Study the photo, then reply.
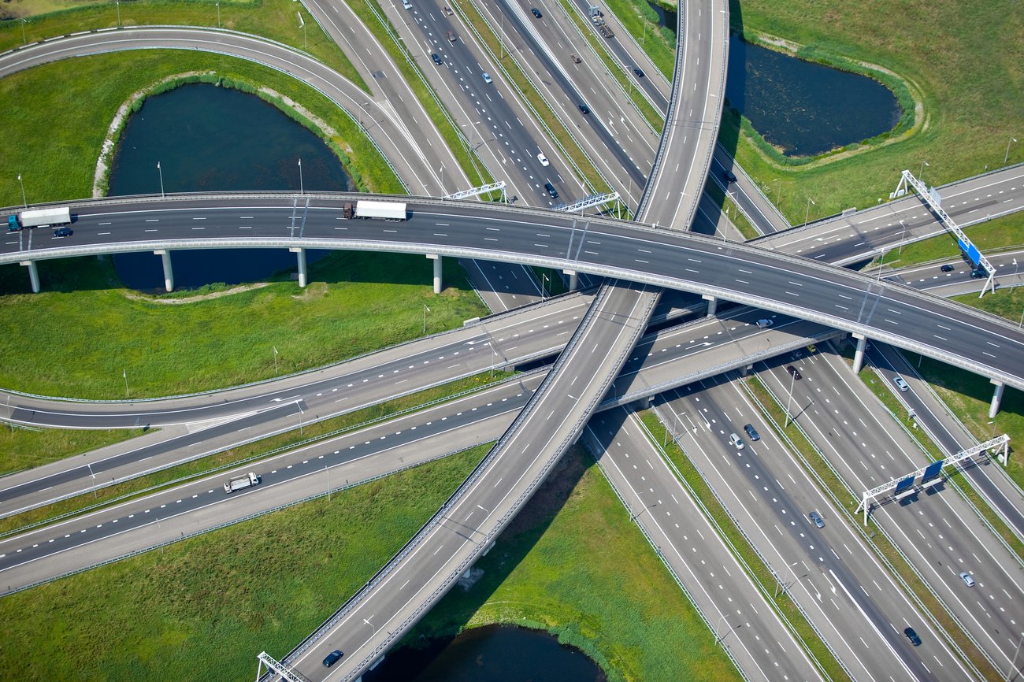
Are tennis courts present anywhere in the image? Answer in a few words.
No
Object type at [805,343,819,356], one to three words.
vehicle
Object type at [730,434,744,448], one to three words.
car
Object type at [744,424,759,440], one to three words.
car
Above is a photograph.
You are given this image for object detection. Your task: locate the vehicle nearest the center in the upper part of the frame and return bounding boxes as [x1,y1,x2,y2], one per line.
[545,183,558,197]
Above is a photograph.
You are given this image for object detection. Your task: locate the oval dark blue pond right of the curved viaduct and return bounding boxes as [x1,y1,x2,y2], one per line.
[723,35,901,156]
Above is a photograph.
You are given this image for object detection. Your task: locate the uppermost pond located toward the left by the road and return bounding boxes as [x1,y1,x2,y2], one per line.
[107,83,352,292]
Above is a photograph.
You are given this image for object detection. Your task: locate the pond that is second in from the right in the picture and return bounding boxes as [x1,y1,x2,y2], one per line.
[354,624,605,682]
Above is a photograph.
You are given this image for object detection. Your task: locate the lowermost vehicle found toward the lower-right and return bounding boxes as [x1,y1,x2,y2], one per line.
[904,627,921,646]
